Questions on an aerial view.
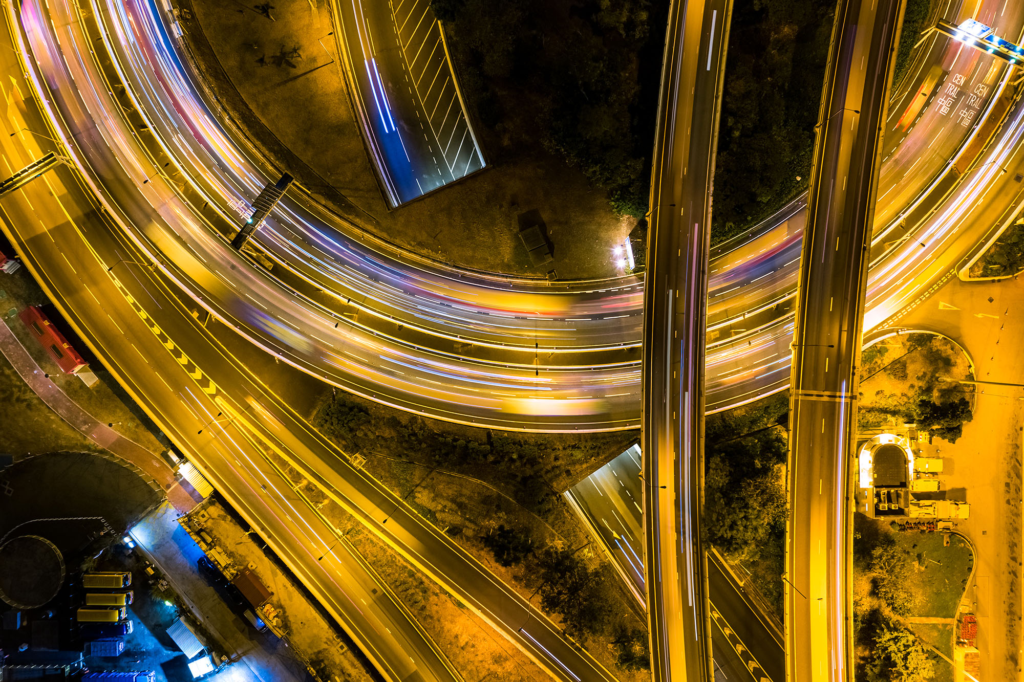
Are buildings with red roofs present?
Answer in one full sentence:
Yes, a building with a red roof is visible in the scene.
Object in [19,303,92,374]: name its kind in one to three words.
building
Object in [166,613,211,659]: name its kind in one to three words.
shed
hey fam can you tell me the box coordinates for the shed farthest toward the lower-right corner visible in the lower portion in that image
[953,646,989,682]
